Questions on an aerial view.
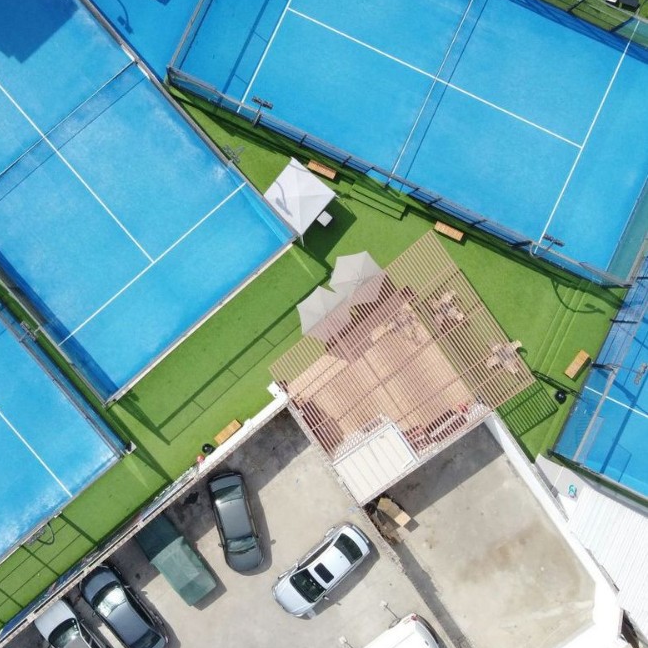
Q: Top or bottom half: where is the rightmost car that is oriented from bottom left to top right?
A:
bottom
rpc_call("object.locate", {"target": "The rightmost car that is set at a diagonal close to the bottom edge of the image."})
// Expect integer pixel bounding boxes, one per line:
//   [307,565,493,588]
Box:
[275,522,373,616]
